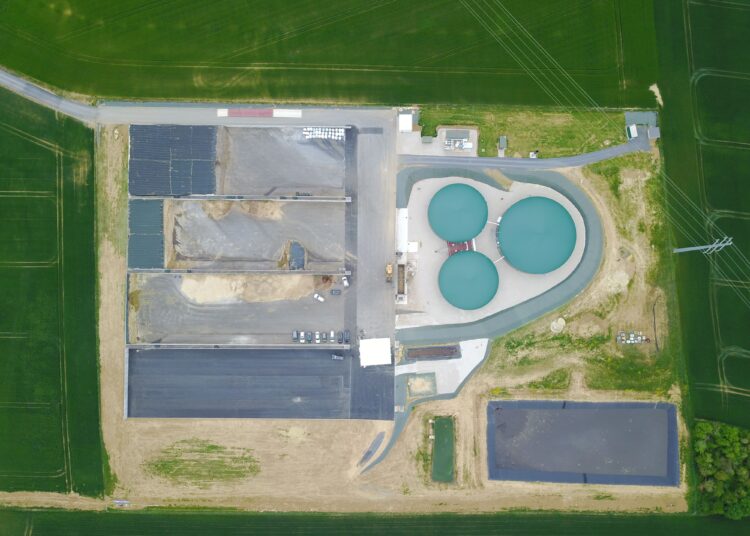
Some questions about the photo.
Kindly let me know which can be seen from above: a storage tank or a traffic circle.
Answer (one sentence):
Visible in the photo is a storage tank.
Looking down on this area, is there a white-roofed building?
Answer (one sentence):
Yes, a white-roofed building can be made out from above.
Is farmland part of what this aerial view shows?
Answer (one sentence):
Yes, the picture does contain farmland.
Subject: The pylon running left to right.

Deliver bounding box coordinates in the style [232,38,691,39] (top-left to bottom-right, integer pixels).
[671,237,735,254]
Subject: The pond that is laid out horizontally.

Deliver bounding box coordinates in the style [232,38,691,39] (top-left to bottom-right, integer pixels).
[486,400,681,487]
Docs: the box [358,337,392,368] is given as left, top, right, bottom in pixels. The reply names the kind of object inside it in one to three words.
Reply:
building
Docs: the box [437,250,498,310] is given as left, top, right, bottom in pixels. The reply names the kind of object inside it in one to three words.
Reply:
storage tank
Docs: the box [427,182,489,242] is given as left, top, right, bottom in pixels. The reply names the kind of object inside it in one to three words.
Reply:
storage tank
